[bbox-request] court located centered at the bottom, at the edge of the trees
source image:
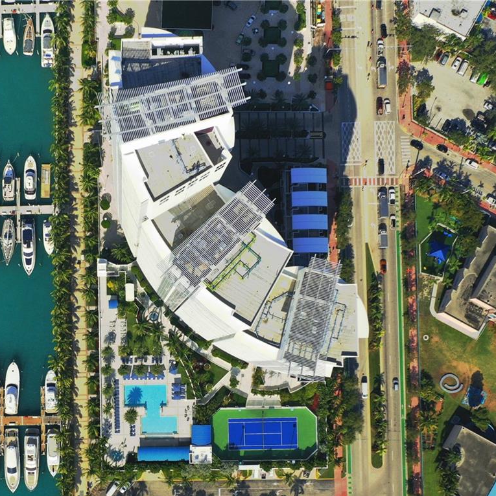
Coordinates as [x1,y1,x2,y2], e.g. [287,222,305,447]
[215,407,317,461]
